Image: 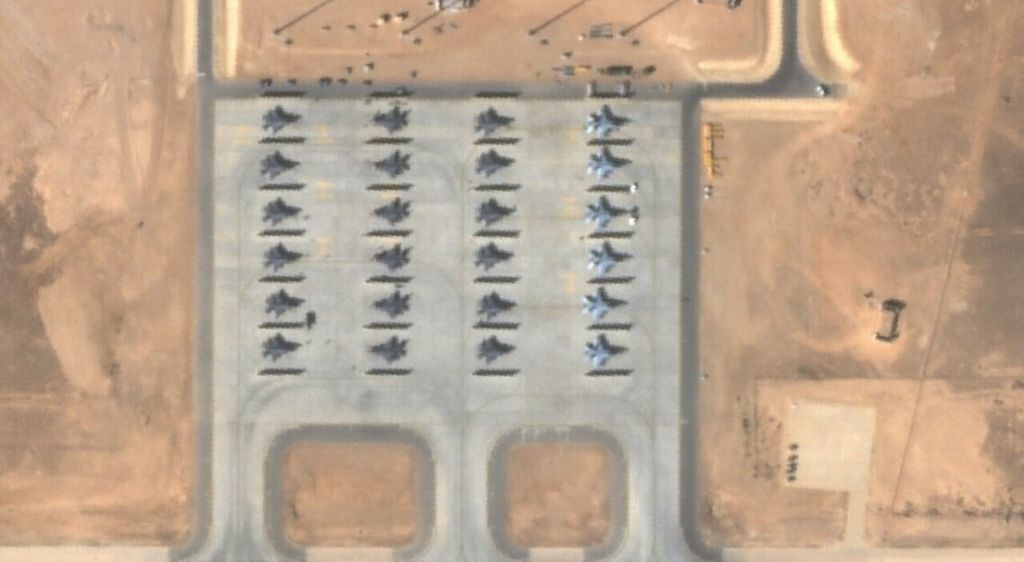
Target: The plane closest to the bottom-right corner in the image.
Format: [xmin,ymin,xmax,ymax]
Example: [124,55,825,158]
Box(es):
[584,340,623,366]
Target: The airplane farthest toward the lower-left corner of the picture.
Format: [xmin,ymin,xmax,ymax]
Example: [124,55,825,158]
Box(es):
[263,336,298,360]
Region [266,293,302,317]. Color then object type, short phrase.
gray airplane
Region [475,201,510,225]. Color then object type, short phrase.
gray airplane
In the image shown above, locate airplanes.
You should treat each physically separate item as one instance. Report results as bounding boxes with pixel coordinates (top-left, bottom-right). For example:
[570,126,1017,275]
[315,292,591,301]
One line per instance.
[261,154,296,178]
[264,247,300,270]
[370,293,406,317]
[585,110,625,136]
[370,202,406,225]
[587,247,627,273]
[266,293,302,317]
[475,201,510,225]
[263,201,299,225]
[370,109,405,132]
[478,294,513,318]
[263,336,298,360]
[582,292,622,318]
[476,153,512,177]
[475,110,510,134]
[371,154,406,178]
[263,109,298,133]
[584,340,623,366]
[475,246,511,270]
[371,247,406,271]
[586,151,625,177]
[368,338,404,361]
[478,339,513,363]
[585,201,623,227]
